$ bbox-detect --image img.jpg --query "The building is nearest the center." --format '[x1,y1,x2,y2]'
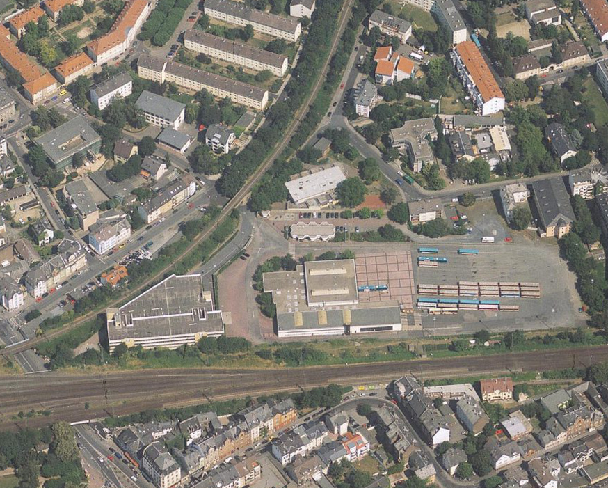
[290,223,335,241]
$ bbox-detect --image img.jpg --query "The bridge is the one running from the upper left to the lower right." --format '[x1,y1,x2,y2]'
[21,371,101,424]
